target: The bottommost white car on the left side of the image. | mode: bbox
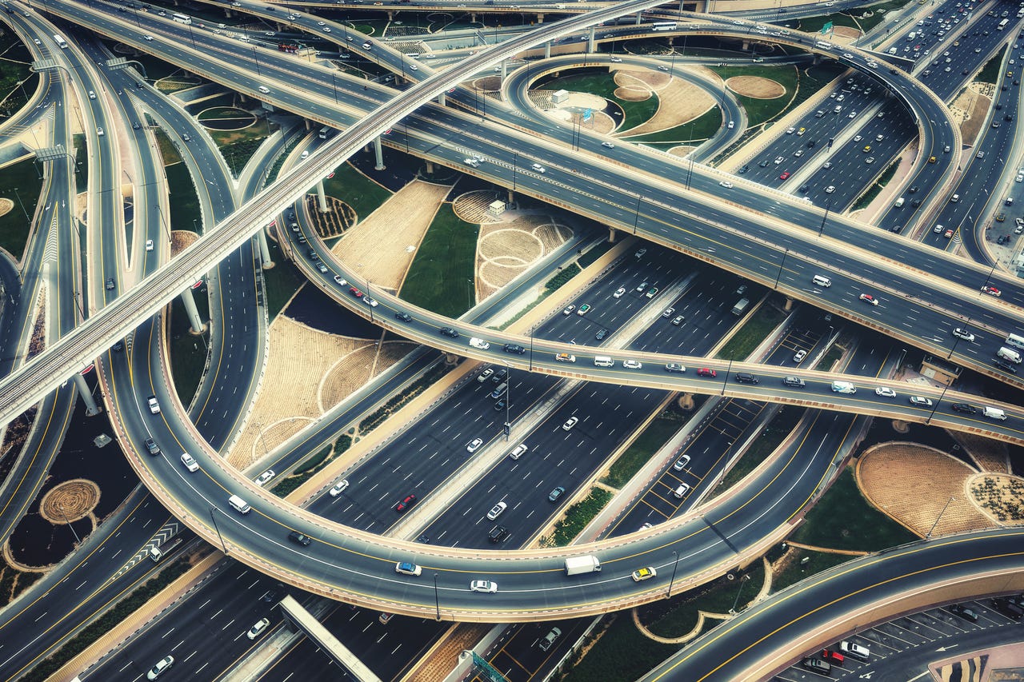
[145,654,175,681]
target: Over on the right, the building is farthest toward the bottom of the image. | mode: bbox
[918,354,966,391]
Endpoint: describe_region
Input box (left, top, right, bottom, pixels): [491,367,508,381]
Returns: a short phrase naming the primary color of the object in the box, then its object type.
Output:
black car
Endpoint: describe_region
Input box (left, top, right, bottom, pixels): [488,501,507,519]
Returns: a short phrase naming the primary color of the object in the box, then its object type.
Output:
white car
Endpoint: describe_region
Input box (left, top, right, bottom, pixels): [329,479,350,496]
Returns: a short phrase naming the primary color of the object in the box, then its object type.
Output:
white car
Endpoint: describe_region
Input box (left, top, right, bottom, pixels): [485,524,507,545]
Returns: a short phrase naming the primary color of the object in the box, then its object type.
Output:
black truck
